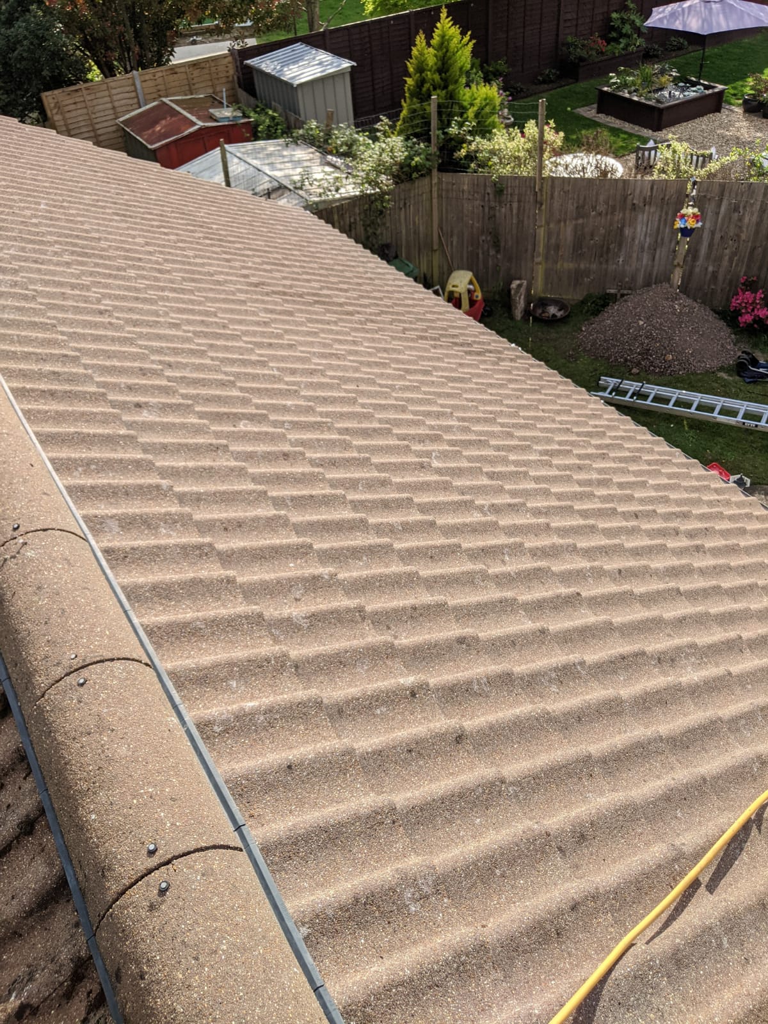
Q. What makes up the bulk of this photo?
buildings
